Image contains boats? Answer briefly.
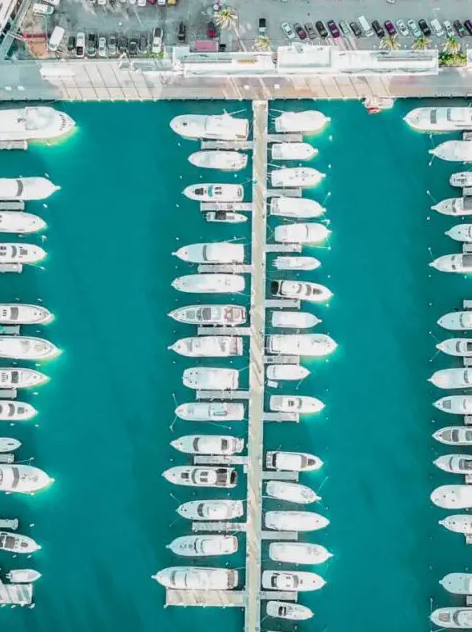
Yes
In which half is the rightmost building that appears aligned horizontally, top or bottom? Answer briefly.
top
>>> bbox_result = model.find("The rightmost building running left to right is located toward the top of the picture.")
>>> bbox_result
[277,34,439,80]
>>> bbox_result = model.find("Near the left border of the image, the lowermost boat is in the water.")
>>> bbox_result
[10,566,43,583]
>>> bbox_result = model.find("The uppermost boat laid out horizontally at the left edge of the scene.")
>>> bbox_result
[0,107,75,142]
